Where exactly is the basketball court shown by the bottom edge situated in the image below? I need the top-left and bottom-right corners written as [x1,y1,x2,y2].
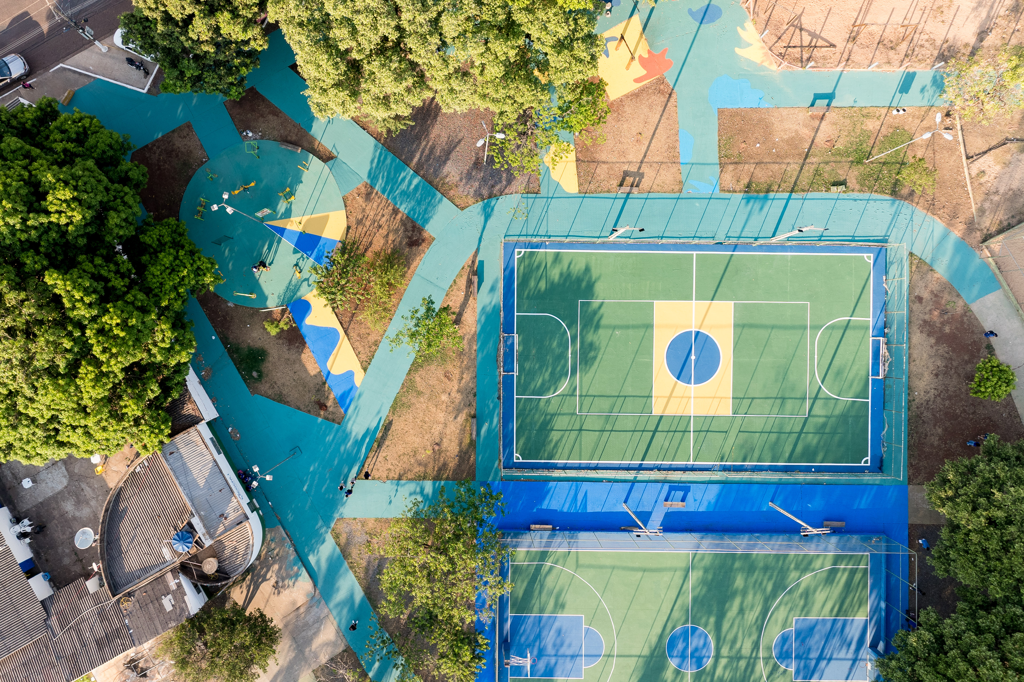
[498,535,881,682]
